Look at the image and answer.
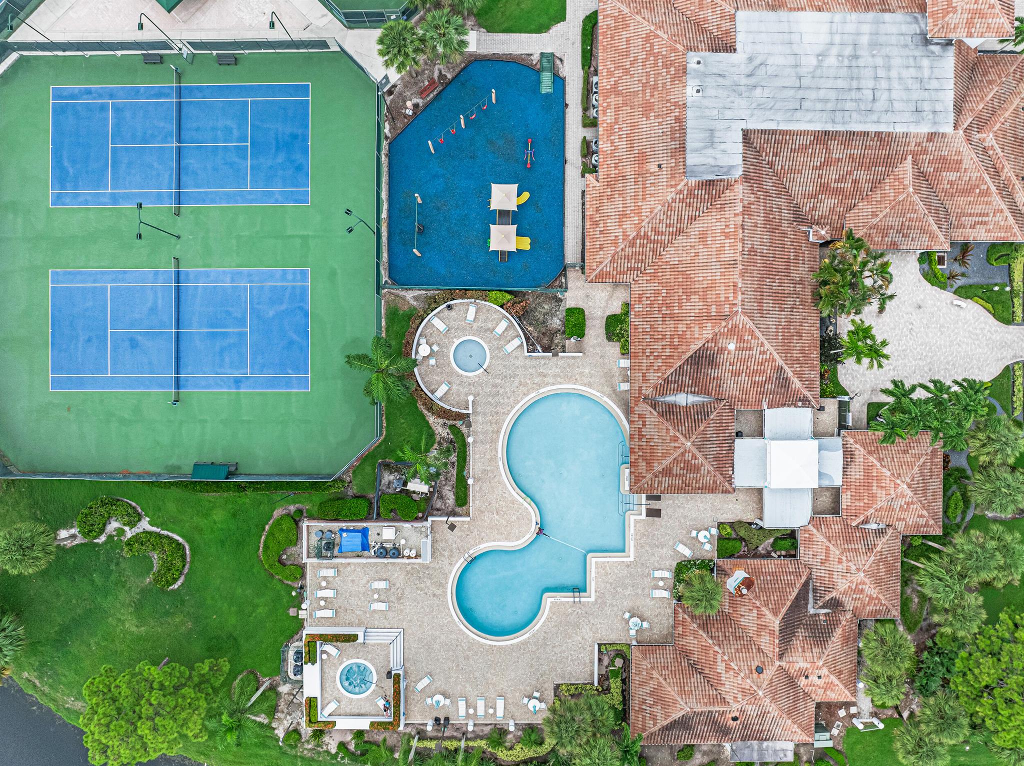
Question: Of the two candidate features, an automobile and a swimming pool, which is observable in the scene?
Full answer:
Looking from above, you can make out a swimming pool.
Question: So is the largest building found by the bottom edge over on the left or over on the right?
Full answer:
The largest building found by the bottom edge appears in the right half of the scene.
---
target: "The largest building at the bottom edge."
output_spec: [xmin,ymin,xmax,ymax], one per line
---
[630,515,903,746]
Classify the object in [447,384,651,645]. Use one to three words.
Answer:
swimming pool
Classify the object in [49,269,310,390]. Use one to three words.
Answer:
tennis court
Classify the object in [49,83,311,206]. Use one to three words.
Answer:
tennis court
